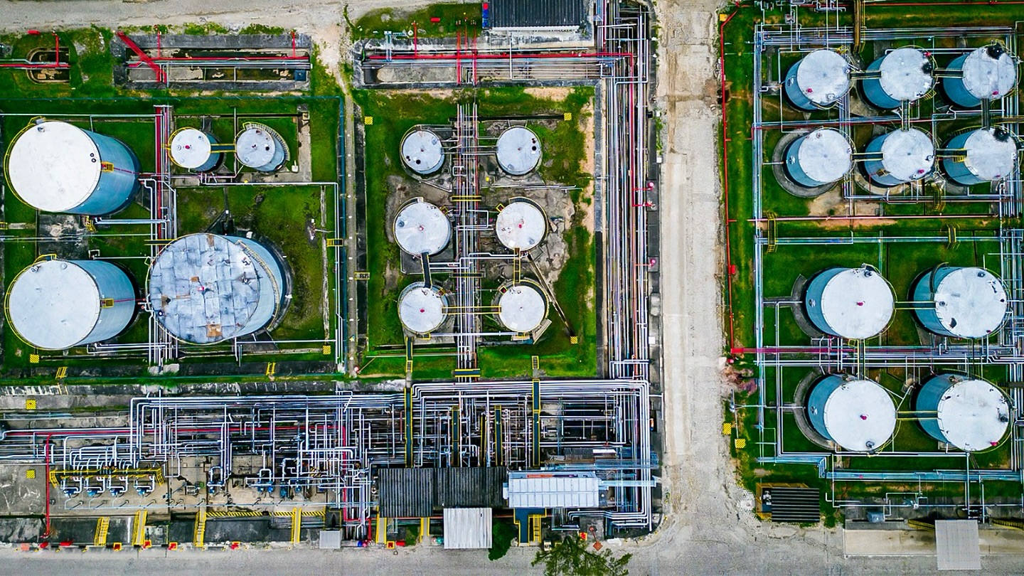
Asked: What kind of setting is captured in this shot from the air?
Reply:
industrial area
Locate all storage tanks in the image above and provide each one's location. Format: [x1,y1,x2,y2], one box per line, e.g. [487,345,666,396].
[941,120,1024,195]
[492,195,550,252]
[0,255,143,356]
[398,127,448,179]
[164,124,227,176]
[907,264,1016,345]
[0,116,144,223]
[142,229,293,347]
[941,40,1024,110]
[795,372,905,457]
[493,124,546,181]
[783,50,856,113]
[913,372,1018,457]
[392,195,452,258]
[773,123,859,200]
[231,121,289,177]
[793,262,901,349]
[856,41,941,119]
[495,280,550,337]
[395,281,447,338]
[852,123,942,197]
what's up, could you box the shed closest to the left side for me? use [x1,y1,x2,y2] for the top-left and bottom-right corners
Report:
[378,462,433,517]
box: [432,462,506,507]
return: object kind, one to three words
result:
shed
